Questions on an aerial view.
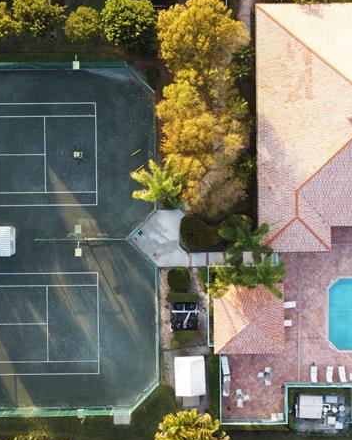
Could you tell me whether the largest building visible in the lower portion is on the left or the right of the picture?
right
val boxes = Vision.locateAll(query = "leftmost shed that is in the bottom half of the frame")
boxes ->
[175,360,205,399]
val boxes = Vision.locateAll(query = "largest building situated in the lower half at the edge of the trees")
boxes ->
[213,286,286,354]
